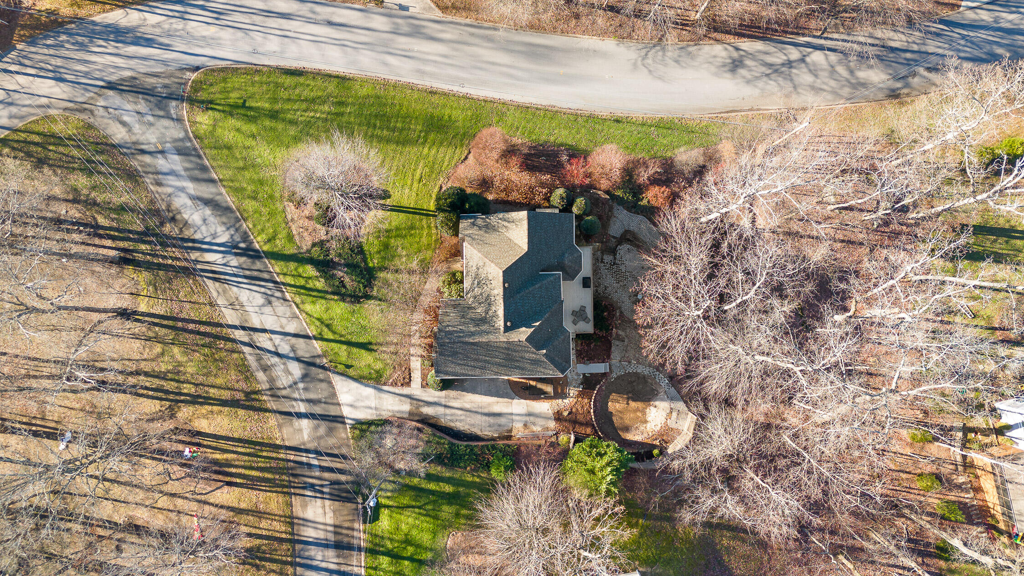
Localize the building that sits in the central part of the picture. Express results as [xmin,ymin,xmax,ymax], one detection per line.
[435,210,595,379]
